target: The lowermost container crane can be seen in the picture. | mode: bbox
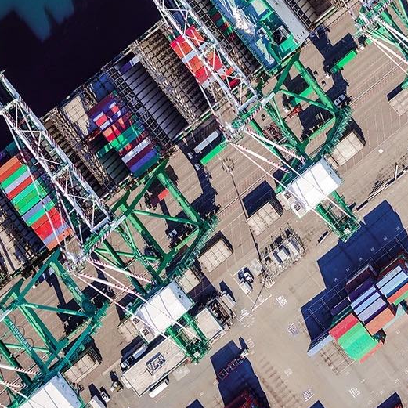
[0,239,121,408]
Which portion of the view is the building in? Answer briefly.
bottom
